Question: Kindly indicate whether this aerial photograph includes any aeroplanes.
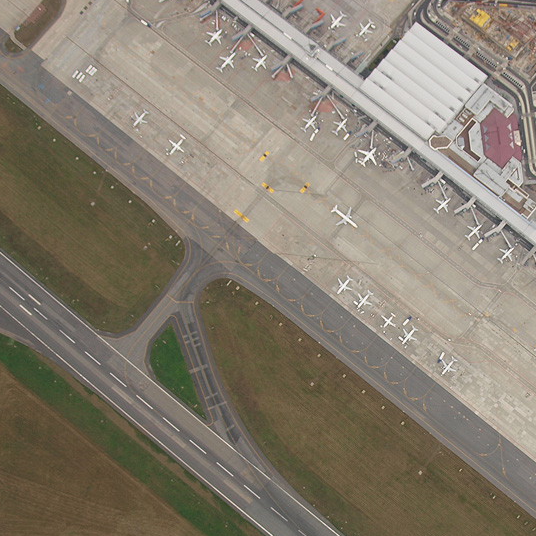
Yes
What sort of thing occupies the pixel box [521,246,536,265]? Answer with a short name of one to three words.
jet bridge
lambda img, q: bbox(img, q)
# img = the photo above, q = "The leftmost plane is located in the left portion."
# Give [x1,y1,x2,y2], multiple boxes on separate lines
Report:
[133,108,150,127]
